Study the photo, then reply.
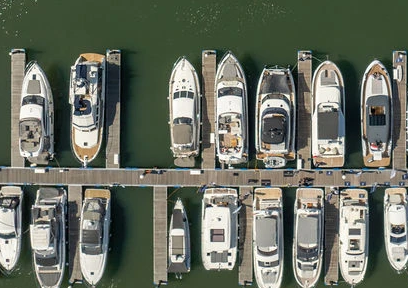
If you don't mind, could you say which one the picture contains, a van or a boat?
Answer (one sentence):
The one in the frame is a boat.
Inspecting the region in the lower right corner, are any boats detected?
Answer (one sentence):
Yes, in the lower right corner there is a boat.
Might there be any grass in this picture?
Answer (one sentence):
No, there is no grass in the image.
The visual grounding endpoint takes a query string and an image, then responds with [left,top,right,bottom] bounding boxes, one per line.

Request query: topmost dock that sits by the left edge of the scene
[11,48,26,167]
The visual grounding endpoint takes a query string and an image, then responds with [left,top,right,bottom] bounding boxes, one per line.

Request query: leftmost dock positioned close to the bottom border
[68,186,82,284]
